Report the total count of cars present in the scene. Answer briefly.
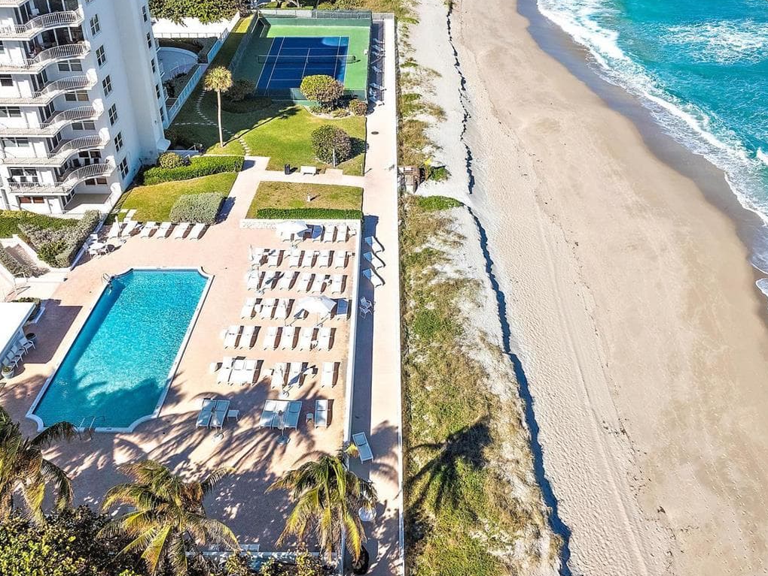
0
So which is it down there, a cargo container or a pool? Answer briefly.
pool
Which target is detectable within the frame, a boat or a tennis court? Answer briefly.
tennis court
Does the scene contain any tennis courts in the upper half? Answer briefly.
Yes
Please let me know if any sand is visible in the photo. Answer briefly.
Yes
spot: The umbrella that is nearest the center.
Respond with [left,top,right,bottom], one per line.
[298,292,339,327]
